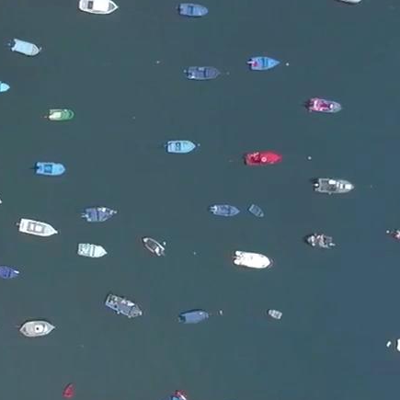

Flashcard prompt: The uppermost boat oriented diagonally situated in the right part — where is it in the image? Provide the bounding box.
[247,202,262,216]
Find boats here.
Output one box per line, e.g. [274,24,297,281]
[229,251,272,268]
[167,140,198,153]
[306,236,334,247]
[308,178,354,193]
[6,38,41,55]
[0,82,10,92]
[179,67,220,79]
[77,0,118,14]
[243,57,279,71]
[267,308,283,320]
[390,229,400,240]
[247,202,262,216]
[0,267,18,279]
[20,321,56,338]
[172,390,186,400]
[29,162,66,176]
[43,110,75,121]
[62,384,72,399]
[172,3,208,16]
[77,244,107,257]
[102,293,143,315]
[78,208,115,223]
[177,311,209,325]
[11,218,59,236]
[244,152,283,166]
[144,238,168,259]
[302,99,341,111]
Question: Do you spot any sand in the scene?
No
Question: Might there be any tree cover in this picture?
No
